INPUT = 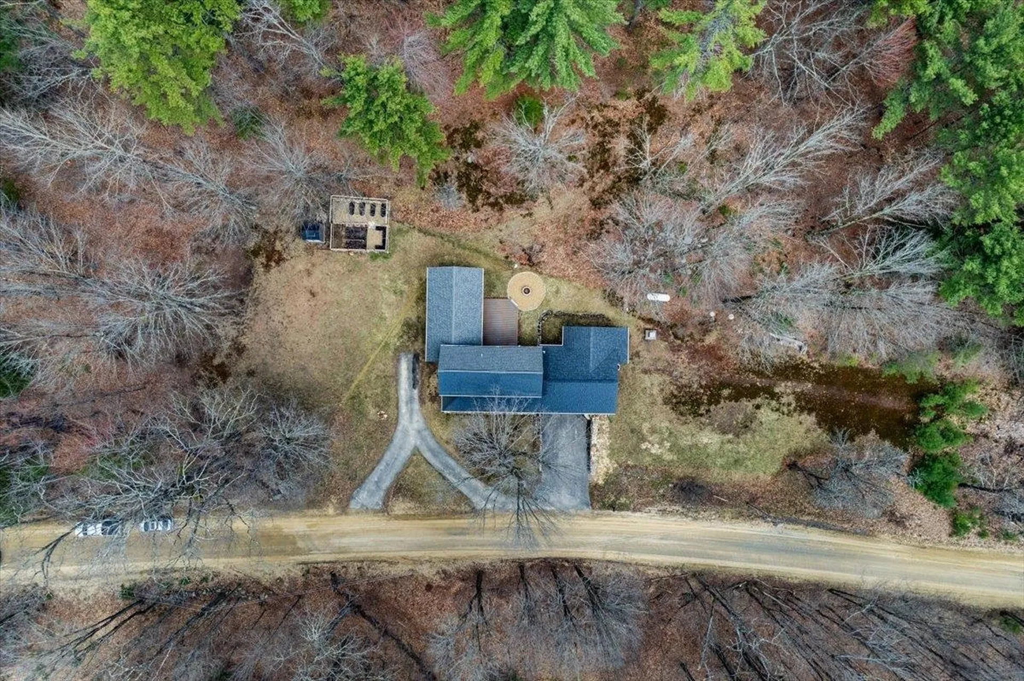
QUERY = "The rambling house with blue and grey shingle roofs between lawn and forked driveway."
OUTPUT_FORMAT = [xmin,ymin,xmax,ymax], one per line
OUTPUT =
[426,266,630,414]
